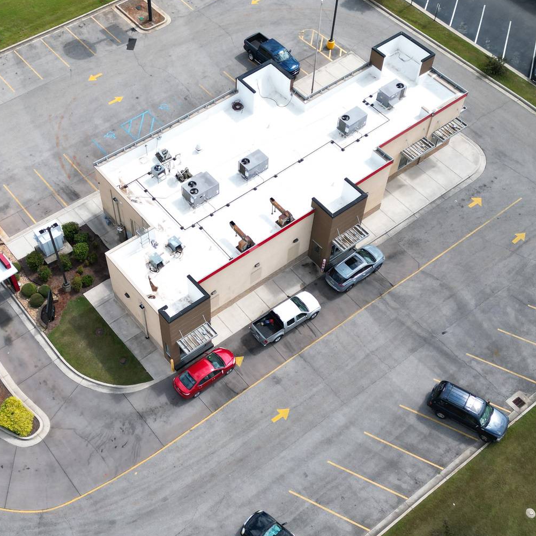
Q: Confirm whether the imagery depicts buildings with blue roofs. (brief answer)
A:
No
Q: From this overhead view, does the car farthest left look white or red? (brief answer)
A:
red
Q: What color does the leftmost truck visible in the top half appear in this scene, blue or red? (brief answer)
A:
blue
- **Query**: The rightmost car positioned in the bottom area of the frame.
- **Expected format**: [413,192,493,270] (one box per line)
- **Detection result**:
[429,382,510,445]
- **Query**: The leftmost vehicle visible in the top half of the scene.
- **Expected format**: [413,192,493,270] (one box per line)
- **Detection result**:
[241,31,297,74]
